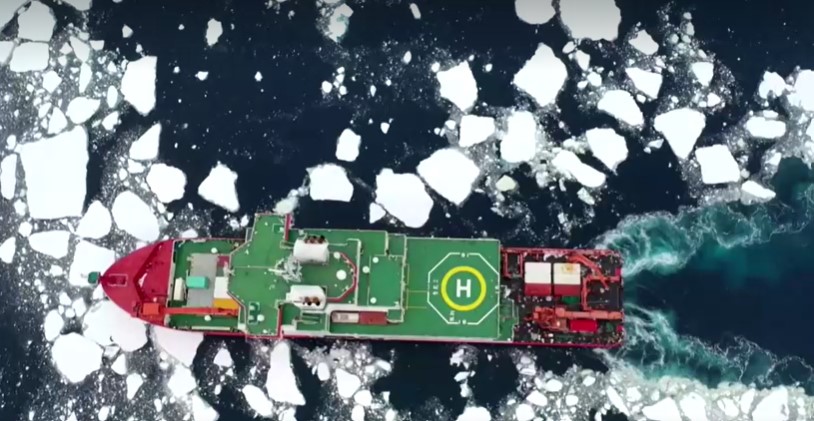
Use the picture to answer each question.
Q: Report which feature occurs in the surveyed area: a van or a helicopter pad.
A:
helicopter pad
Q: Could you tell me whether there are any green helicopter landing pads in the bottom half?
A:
Yes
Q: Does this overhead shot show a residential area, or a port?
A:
port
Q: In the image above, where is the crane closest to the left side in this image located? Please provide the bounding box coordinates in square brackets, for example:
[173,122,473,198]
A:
[134,303,240,316]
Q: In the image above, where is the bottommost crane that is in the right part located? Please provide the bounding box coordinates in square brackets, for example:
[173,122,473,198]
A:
[529,304,621,330]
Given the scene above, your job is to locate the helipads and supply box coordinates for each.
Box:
[402,236,501,347]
